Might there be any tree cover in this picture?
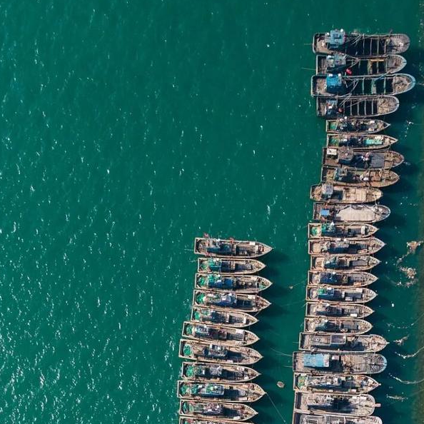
No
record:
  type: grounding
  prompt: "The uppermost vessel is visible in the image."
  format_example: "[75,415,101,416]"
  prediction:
[312,30,409,58]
